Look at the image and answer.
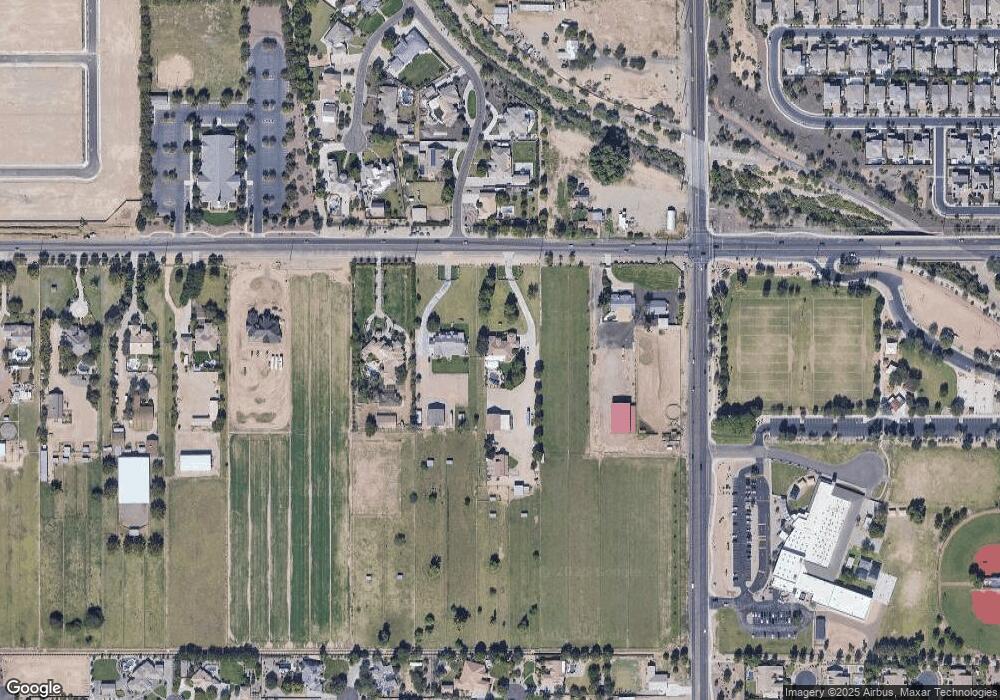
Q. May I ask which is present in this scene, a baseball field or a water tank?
baseball field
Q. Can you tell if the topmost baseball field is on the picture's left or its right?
left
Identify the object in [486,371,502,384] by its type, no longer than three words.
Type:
swimming pool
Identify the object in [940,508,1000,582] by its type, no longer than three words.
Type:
baseball field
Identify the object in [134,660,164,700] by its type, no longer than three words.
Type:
house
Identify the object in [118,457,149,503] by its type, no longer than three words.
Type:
barn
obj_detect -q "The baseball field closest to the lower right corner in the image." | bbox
[941,586,1000,656]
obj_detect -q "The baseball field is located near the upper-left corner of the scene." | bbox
[158,55,193,88]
